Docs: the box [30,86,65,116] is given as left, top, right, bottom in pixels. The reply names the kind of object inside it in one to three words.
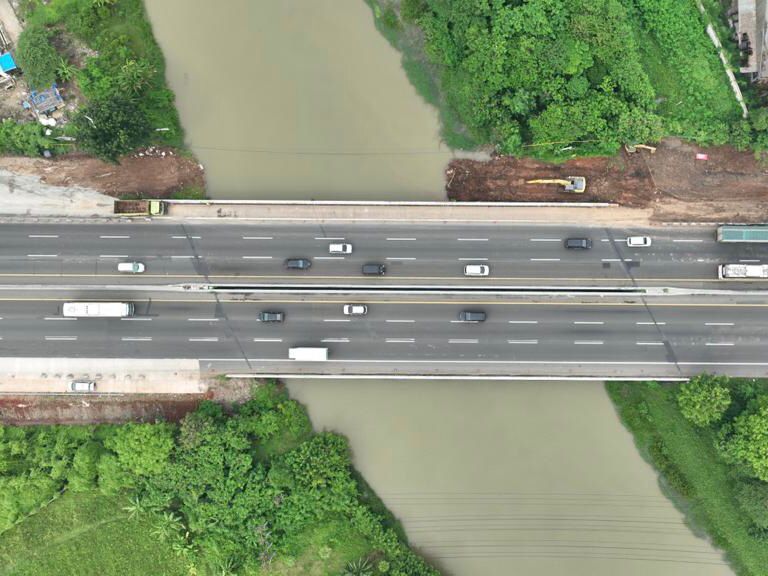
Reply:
shed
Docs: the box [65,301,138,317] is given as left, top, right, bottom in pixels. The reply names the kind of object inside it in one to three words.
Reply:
vehicle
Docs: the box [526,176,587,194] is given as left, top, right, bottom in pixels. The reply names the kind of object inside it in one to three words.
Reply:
work vehicle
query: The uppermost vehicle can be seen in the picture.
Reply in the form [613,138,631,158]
[623,144,655,156]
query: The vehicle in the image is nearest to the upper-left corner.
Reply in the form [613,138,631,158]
[111,200,167,215]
